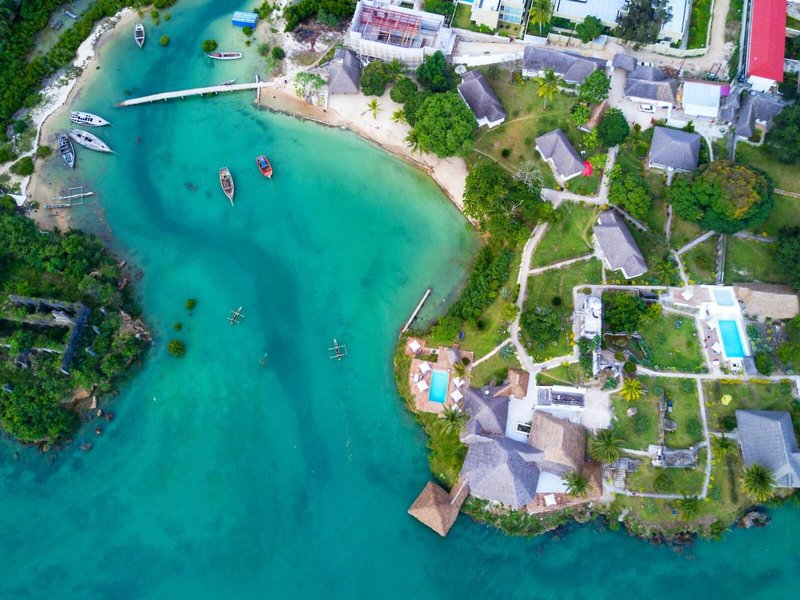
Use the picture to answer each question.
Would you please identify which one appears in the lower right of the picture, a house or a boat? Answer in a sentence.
Visible in the lower right of the picture is a house.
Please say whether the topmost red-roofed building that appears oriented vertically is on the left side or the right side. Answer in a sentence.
The topmost red-roofed building that appears oriented vertically is on the right side of the image.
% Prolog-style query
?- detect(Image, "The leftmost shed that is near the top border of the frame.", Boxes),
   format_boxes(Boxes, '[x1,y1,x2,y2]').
[233,11,259,30]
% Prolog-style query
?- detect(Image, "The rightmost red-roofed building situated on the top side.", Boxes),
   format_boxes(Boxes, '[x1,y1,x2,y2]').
[741,0,787,88]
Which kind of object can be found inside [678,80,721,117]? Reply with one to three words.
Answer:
building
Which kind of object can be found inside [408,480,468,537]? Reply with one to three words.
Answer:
gazebo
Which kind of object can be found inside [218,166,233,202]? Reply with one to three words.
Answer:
boat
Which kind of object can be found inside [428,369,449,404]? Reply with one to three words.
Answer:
swimming pool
